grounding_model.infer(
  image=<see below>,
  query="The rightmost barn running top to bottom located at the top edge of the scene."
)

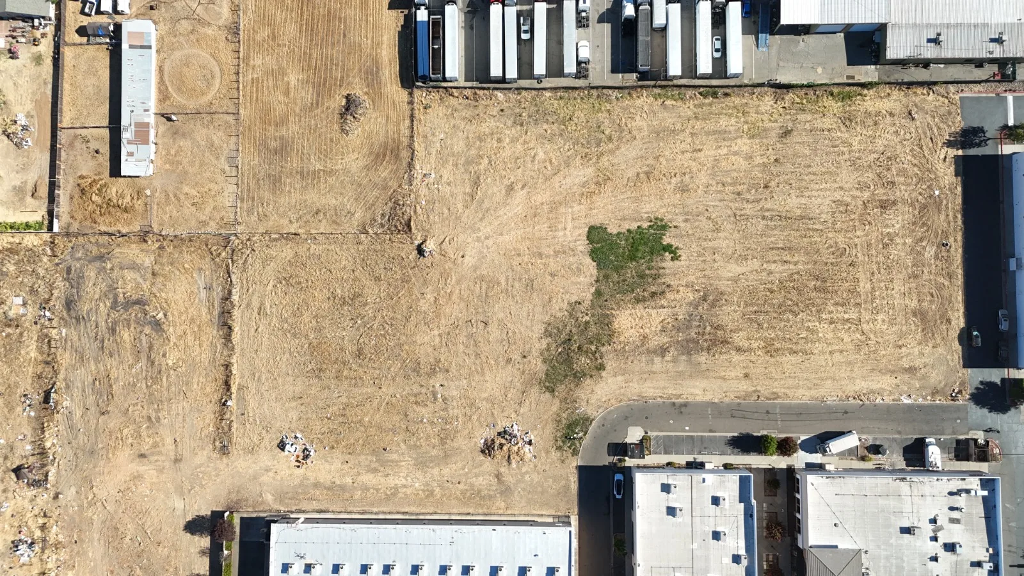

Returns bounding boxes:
[121,20,156,178]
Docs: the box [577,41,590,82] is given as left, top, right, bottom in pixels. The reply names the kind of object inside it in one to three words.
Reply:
vehicle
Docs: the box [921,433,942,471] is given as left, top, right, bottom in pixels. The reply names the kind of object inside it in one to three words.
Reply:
truck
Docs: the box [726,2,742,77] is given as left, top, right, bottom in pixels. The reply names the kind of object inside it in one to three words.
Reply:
trailer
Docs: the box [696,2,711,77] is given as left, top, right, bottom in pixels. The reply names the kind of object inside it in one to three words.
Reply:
trailer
